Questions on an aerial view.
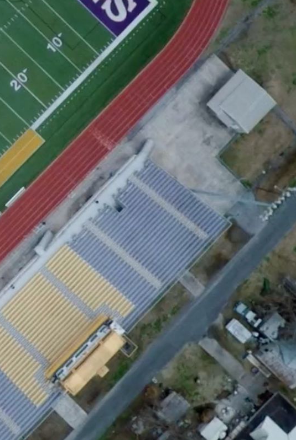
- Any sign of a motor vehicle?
Yes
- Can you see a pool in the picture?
No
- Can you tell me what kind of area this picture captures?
sports ground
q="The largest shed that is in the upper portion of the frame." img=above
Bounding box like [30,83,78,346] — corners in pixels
[199,69,276,140]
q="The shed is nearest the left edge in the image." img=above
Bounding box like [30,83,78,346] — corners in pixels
[153,387,189,423]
